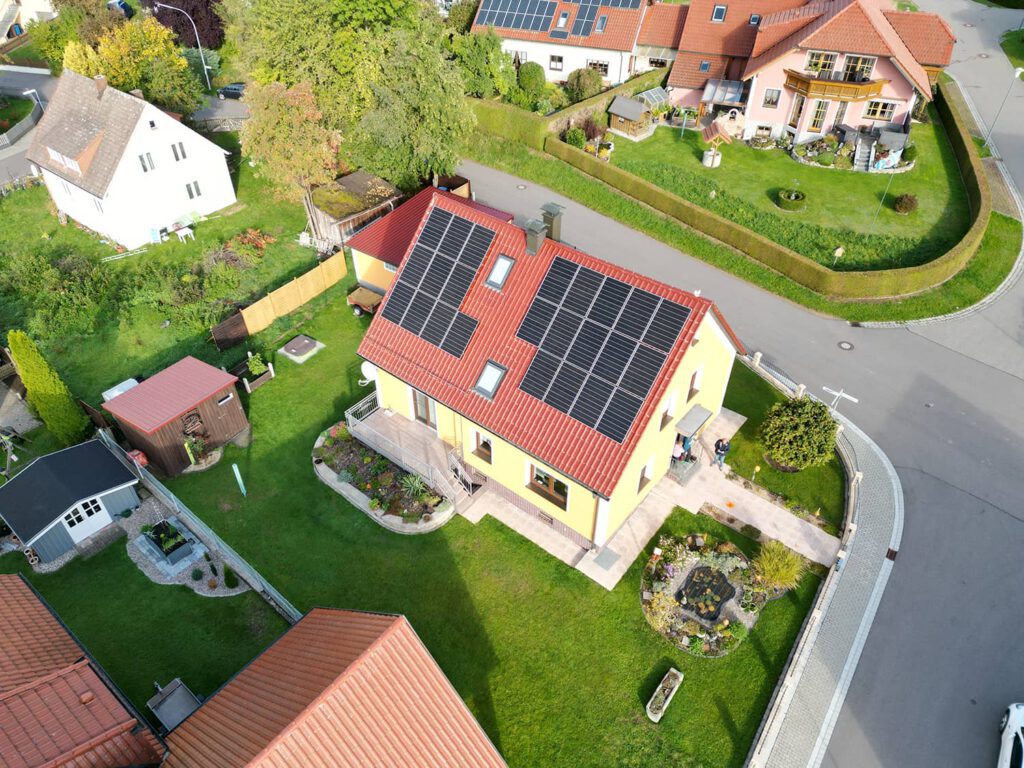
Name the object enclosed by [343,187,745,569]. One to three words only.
house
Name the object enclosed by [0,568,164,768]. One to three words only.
building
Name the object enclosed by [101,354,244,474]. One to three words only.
shed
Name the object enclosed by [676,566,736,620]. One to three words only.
pond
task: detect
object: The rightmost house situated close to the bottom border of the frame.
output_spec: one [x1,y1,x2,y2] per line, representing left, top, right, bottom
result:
[121,605,509,768]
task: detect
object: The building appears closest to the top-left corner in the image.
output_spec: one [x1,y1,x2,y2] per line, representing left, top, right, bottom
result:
[25,67,233,249]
